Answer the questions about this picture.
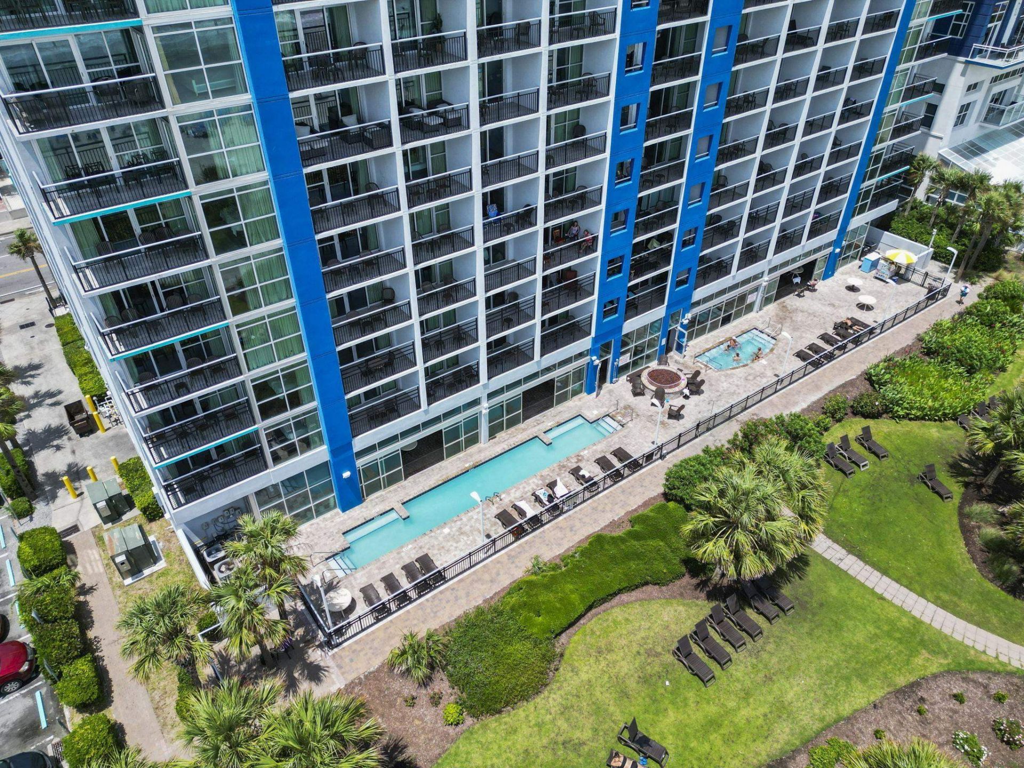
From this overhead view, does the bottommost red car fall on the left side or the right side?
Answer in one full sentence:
It is on the left.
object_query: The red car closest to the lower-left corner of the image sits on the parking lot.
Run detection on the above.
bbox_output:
[0,639,37,691]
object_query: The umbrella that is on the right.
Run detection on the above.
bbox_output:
[885,248,919,266]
